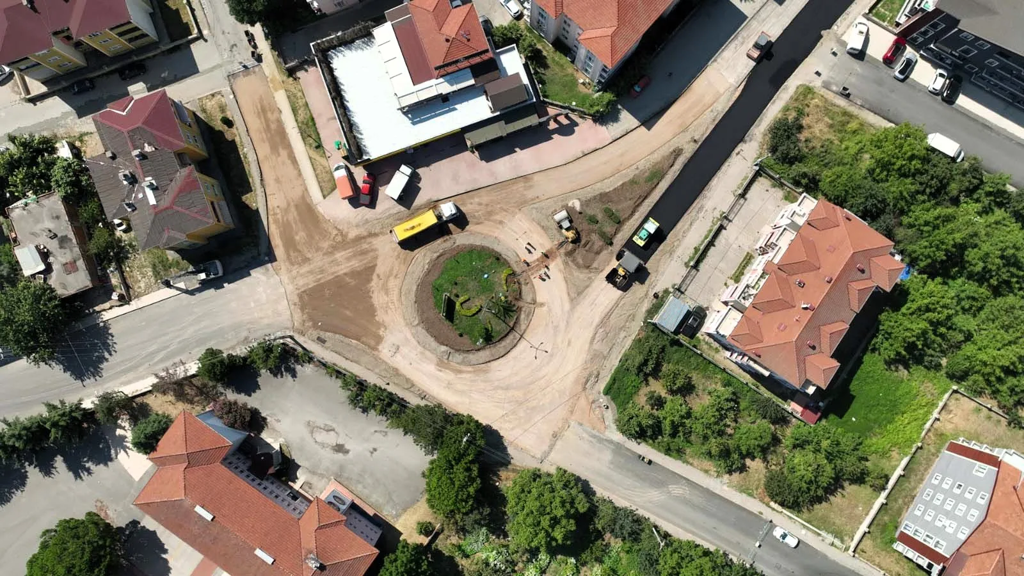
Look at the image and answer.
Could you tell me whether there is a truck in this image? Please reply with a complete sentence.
Yes, I can see a truck in this picture.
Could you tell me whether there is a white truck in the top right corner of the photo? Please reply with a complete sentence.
Yes, a white truck can be seen in the top right corner of the photo.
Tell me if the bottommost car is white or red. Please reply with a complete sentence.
The color of the bottommost car is white.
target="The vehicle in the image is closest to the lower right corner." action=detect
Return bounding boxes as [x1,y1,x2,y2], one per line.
[770,525,800,547]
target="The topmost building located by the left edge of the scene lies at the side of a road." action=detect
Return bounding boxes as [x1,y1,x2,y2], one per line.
[0,0,158,96]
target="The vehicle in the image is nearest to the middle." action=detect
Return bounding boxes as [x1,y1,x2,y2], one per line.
[552,208,577,252]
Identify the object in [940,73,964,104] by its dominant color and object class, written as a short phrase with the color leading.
black car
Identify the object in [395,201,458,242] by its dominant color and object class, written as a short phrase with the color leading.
yellow truck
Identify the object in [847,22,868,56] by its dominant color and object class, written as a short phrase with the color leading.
white vehicle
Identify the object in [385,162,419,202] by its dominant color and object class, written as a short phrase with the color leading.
white truck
